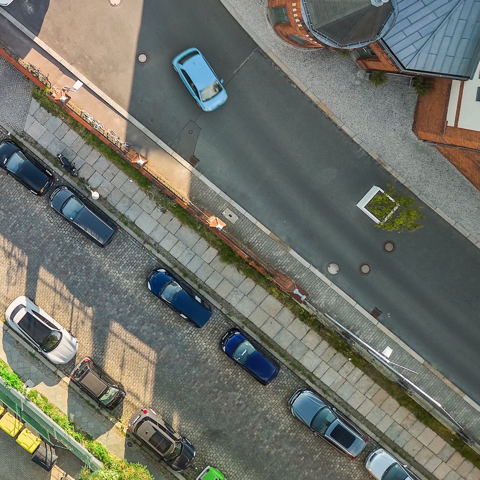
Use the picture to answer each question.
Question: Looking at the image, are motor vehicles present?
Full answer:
Yes, there's a motor vehicle down there.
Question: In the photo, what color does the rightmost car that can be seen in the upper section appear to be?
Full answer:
In this view, the rightmost car that can be seen in the upper section is blue.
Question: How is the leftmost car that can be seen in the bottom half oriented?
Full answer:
The leftmost car that can be seen in the bottom half is oriented on a diagonal.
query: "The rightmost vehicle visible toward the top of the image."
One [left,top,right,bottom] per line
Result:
[175,47,222,110]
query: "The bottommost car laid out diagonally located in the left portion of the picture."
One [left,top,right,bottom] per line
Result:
[129,406,193,469]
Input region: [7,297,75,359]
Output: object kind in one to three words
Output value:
car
